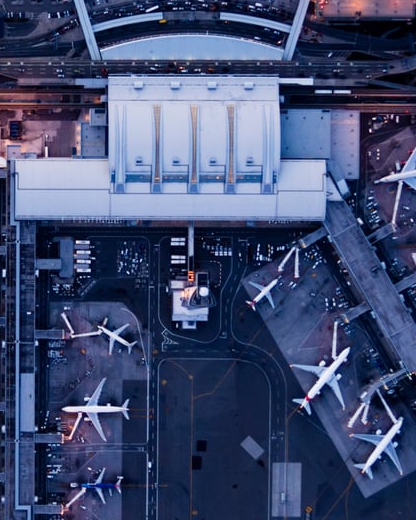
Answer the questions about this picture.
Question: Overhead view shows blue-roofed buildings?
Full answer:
Yes, there is a blue-roofed building in the image.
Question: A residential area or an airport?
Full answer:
This looks like an airport.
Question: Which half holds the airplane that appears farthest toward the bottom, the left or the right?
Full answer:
It is on the left.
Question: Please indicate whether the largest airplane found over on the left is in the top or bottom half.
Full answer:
You can find the largest airplane found over on the left in the bottom half.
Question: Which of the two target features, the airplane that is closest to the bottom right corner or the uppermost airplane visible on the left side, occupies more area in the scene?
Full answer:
The larger object is the airplane that is closest to the bottom right corner, with the uppermost airplane visible on the left side being the smaller of the pair.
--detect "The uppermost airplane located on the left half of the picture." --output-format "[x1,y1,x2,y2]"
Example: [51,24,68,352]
[98,325,136,357]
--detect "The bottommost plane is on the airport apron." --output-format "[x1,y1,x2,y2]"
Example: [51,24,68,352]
[81,467,121,505]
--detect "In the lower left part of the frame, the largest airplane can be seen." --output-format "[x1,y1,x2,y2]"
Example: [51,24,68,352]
[62,377,129,442]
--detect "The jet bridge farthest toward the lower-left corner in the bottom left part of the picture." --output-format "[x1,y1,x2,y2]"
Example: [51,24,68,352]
[65,487,87,510]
